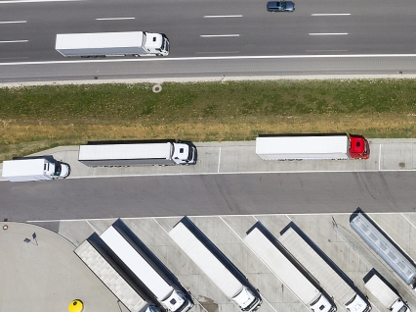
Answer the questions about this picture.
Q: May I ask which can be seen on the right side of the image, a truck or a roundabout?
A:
truck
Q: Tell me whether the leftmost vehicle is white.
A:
Yes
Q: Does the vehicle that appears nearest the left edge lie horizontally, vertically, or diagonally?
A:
horizontally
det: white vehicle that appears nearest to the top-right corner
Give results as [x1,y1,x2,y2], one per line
[256,136,370,160]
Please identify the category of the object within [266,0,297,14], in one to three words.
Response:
car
